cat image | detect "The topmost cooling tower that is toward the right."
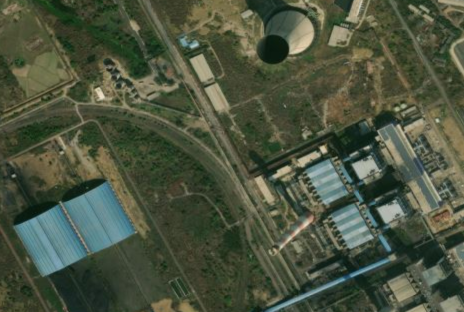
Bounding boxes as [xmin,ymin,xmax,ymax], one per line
[257,3,320,65]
